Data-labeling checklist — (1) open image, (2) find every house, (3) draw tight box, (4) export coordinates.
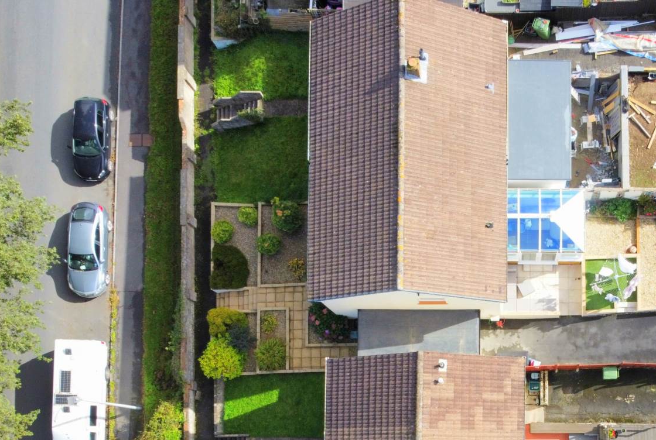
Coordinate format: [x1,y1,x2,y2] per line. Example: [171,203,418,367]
[307,0,510,324]
[321,351,527,440]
